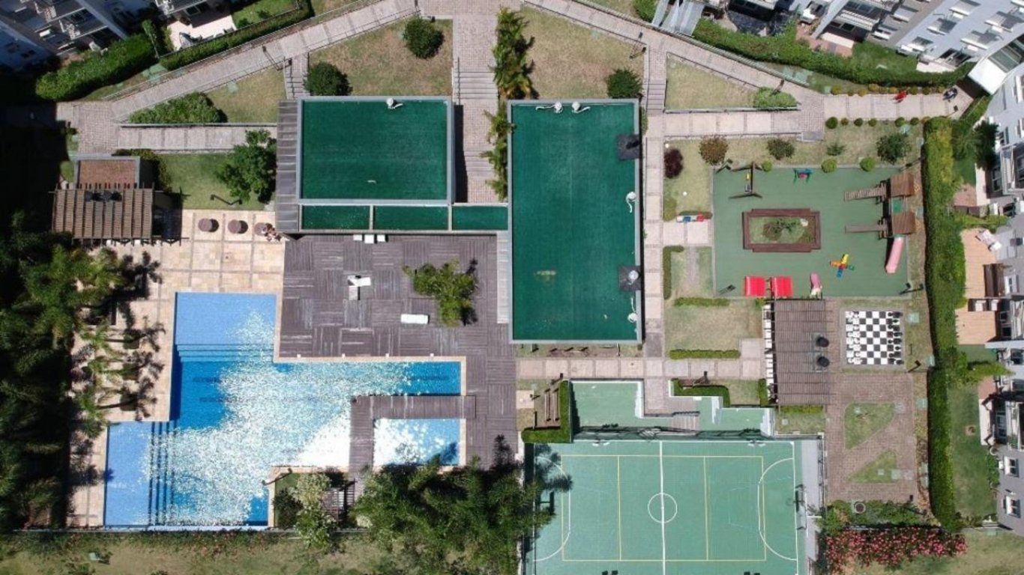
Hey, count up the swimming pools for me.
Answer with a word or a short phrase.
1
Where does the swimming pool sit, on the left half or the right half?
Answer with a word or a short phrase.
left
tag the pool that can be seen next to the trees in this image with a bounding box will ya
[78,293,465,531]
